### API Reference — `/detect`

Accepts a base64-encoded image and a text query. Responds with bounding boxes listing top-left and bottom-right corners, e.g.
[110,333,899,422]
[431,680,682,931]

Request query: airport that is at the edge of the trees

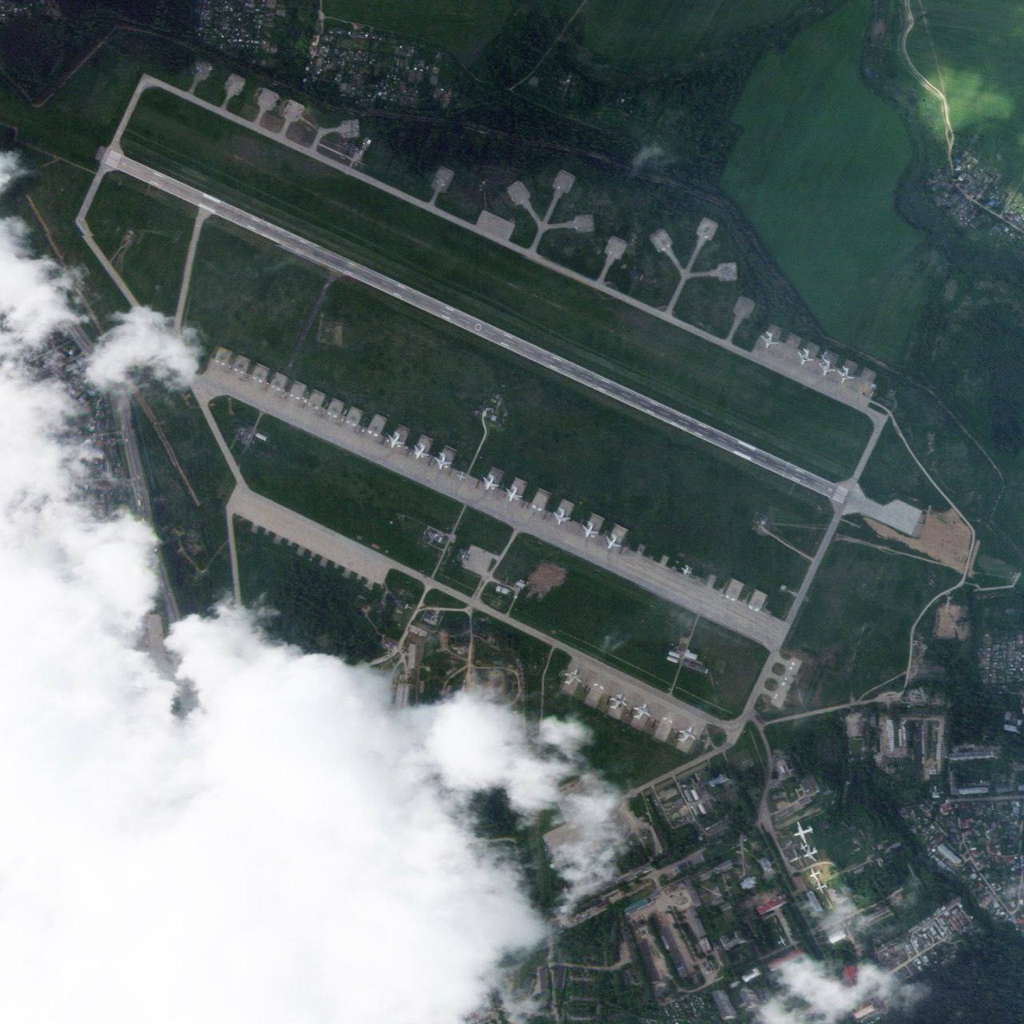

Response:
[79,64,928,752]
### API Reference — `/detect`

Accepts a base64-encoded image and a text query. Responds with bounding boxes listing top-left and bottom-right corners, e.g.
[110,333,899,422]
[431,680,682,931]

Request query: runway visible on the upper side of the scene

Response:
[104,150,851,504]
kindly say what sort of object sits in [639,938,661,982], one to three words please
building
